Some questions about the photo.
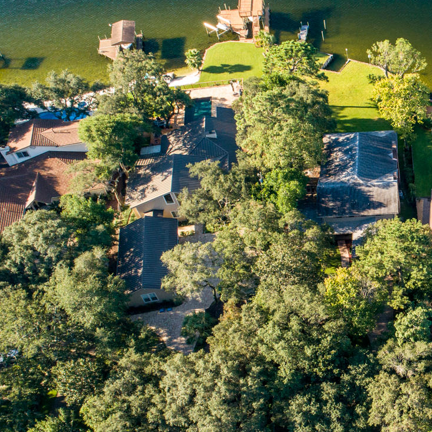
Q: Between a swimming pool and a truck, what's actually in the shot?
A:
swimming pool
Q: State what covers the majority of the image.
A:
trees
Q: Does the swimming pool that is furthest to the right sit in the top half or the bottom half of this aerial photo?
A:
top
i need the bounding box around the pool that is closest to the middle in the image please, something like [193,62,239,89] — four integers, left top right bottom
[183,96,213,123]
